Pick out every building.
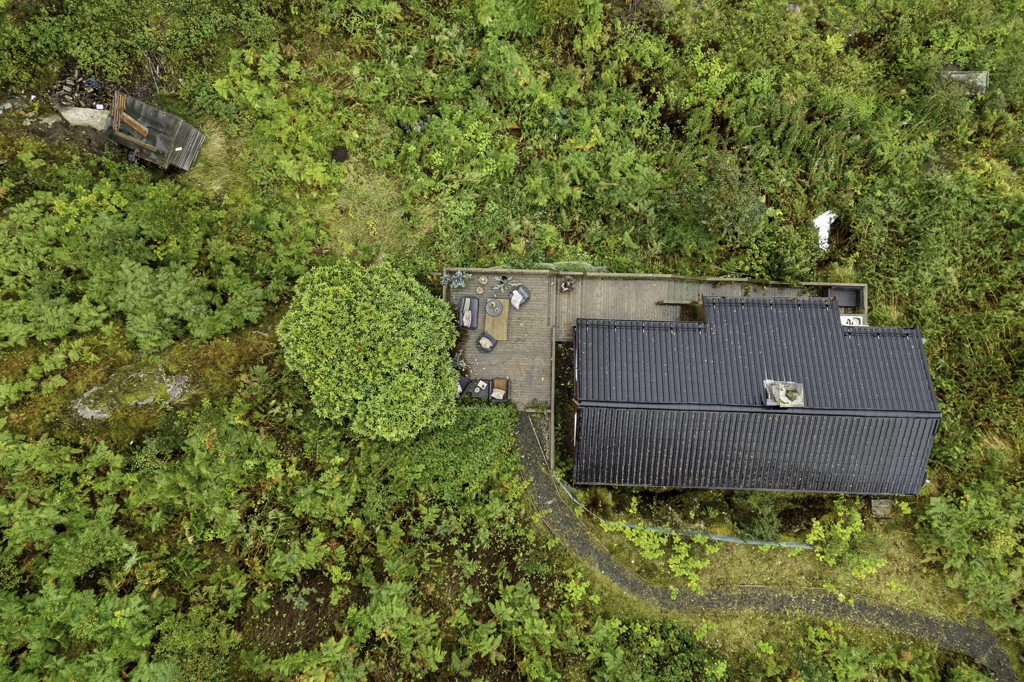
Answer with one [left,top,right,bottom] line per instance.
[569,295,945,498]
[103,90,205,179]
